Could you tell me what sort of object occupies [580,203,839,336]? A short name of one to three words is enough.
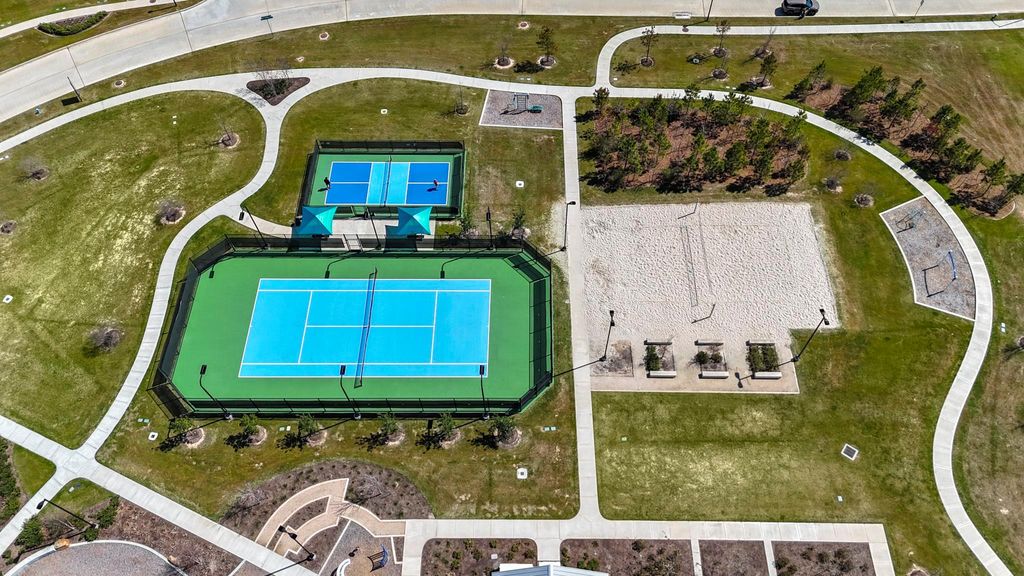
sports court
